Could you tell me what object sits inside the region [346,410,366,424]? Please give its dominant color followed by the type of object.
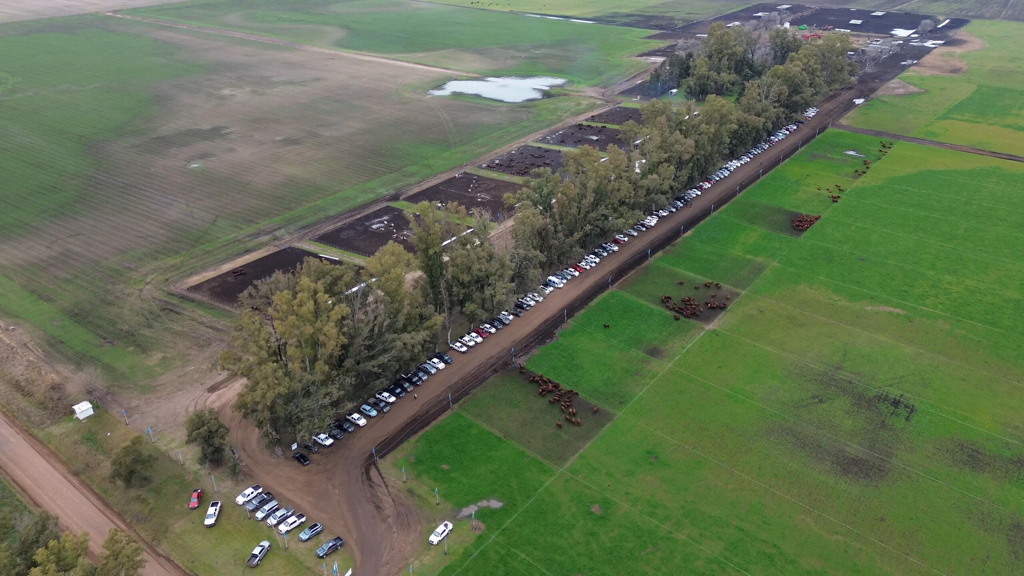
white vehicle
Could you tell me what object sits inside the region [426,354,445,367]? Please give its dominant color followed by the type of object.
white vehicle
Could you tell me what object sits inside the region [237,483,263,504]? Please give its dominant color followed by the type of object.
white truck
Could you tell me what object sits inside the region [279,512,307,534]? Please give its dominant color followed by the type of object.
white truck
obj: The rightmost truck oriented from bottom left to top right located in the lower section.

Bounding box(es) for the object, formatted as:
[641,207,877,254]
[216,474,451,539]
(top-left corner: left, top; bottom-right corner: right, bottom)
[431,520,453,545]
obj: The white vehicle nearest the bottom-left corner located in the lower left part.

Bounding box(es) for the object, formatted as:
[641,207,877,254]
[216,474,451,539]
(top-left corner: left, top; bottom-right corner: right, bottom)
[204,501,221,525]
